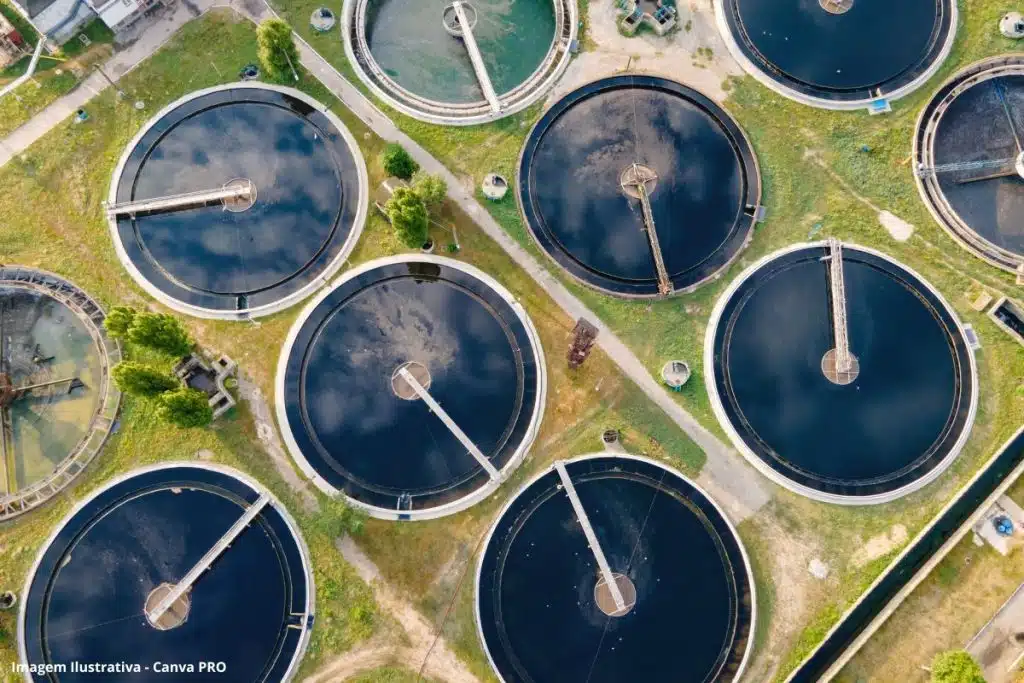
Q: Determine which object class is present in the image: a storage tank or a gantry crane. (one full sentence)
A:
Of the two, only a storage tank appears.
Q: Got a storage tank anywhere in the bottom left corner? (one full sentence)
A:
Yes, a storage tank is visible in the bottom left corner.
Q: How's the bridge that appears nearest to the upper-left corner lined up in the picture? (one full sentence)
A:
From this overhead view, the bridge that appears nearest to the upper-left corner appears to run from side to side.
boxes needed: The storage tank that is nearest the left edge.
[0,266,123,522]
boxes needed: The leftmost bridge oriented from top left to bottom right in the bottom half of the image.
[399,366,504,486]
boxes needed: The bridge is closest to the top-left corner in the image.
[106,182,254,219]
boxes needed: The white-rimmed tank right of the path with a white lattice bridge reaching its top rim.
[704,237,979,506]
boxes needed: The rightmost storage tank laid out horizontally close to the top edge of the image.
[711,0,958,109]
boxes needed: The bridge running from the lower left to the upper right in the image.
[146,491,276,623]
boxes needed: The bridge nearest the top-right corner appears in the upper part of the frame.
[913,156,1022,177]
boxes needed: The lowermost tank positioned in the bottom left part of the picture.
[17,462,317,683]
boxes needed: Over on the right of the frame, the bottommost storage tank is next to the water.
[475,453,757,683]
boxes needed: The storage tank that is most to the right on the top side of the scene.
[910,52,1024,291]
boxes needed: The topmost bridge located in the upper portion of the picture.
[452,2,503,117]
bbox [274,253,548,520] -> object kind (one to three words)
storage tank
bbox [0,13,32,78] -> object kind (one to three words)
building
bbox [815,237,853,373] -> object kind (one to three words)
bridge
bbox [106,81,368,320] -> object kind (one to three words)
storage tank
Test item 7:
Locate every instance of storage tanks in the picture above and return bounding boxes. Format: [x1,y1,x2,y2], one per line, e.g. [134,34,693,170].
[274,253,548,520]
[910,52,1024,291]
[711,0,958,109]
[516,73,762,300]
[17,462,317,683]
[0,266,123,522]
[475,453,757,683]
[704,237,979,506]
[106,81,368,320]
[344,0,576,125]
